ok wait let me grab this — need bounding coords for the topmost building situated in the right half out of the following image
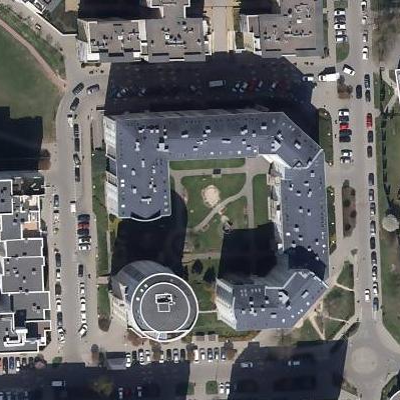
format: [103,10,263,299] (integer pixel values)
[238,0,323,58]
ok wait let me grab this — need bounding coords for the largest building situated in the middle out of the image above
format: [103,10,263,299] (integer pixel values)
[107,108,327,284]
